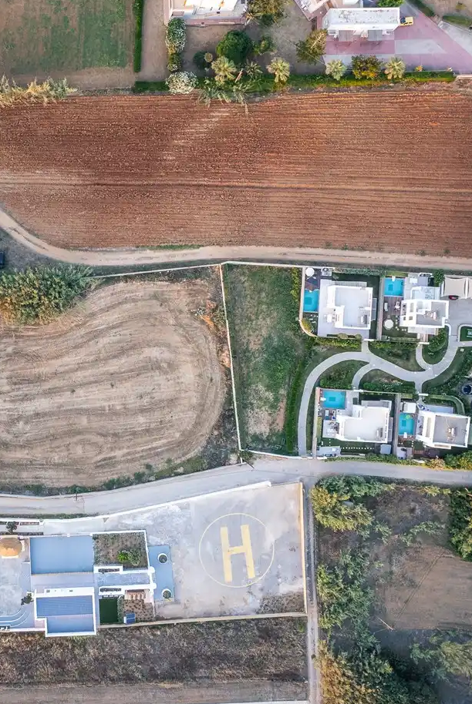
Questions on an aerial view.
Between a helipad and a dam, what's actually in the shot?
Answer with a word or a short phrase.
helipad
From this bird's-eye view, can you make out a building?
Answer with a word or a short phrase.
Yes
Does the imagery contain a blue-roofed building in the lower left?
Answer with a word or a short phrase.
Yes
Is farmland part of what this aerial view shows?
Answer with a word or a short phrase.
Yes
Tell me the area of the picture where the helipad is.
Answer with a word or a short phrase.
bottom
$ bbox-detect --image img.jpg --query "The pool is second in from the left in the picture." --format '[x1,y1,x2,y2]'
[321,389,347,411]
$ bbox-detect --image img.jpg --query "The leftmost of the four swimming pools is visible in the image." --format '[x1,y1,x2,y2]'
[303,287,321,313]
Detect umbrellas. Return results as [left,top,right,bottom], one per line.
[305,267,315,277]
[383,320,394,329]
